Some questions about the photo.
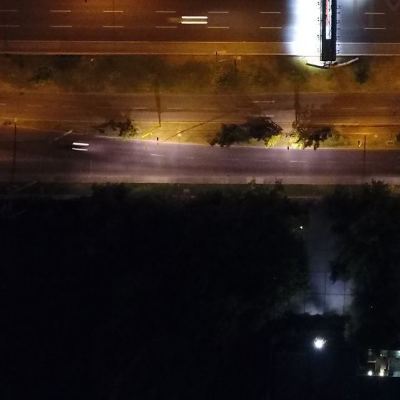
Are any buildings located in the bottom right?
Yes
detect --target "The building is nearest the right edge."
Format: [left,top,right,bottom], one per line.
[366,343,400,379]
